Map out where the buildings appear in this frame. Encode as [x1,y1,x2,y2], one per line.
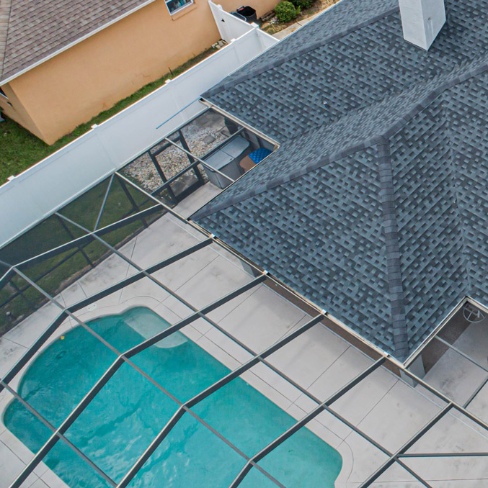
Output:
[183,0,488,386]
[0,0,280,143]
